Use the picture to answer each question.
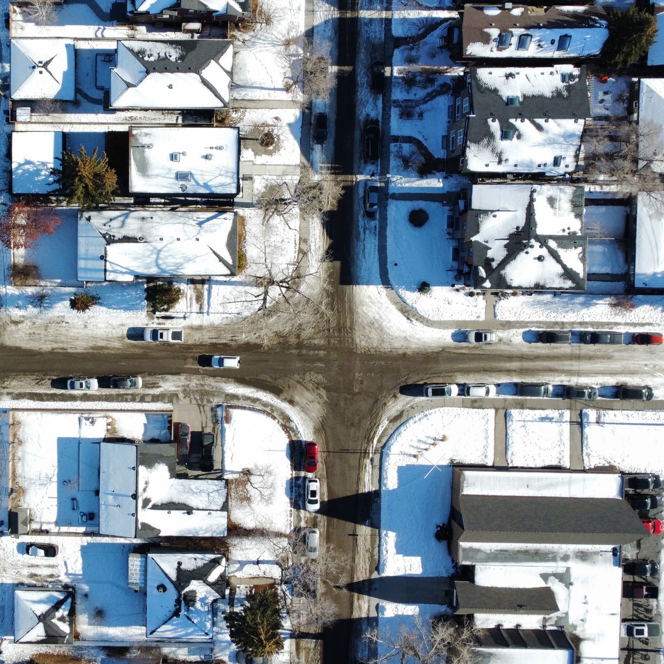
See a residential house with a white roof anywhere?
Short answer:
Yes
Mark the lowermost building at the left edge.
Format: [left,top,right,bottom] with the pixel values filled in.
[14,585,74,643]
